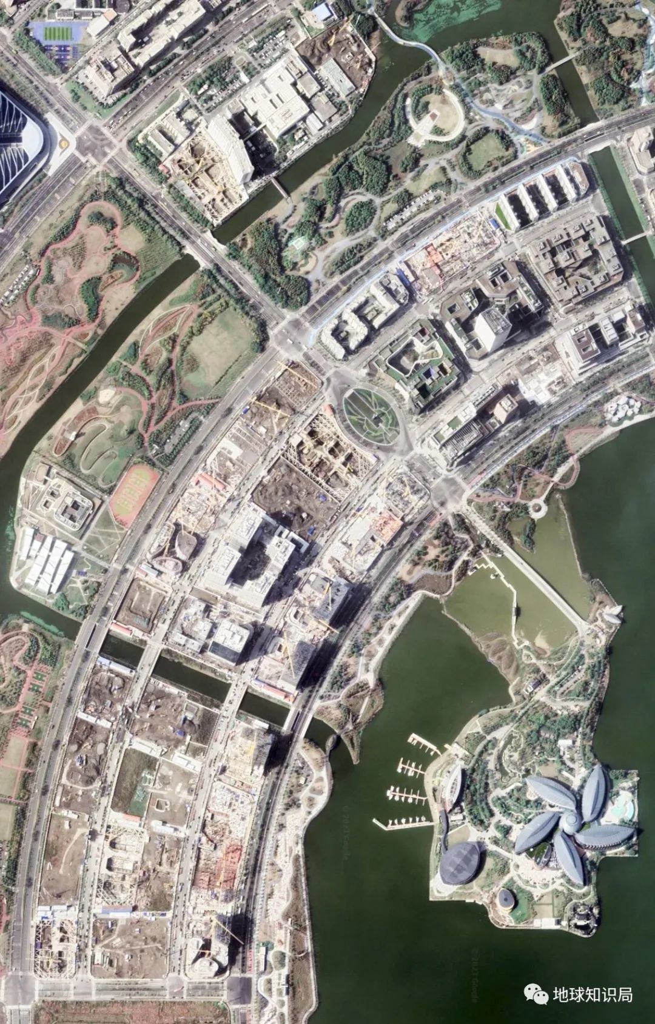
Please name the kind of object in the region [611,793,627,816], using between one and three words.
swimming pool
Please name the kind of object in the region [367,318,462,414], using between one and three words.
building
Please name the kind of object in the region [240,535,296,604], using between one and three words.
building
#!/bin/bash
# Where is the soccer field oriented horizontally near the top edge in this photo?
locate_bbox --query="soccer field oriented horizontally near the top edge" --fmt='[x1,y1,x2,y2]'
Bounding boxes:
[29,22,91,44]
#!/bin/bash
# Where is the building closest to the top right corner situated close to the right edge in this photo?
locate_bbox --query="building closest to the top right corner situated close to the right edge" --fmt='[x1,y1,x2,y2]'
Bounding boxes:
[628,126,654,176]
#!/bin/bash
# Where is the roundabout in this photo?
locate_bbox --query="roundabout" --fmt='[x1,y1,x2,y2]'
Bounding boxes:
[324,369,416,458]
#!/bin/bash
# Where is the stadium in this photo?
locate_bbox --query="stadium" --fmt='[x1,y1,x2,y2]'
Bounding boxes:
[0,86,51,205]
